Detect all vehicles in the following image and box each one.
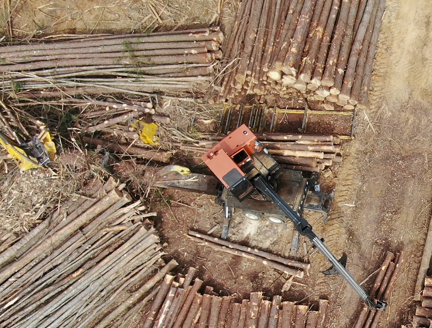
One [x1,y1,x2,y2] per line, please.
[143,125,397,314]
